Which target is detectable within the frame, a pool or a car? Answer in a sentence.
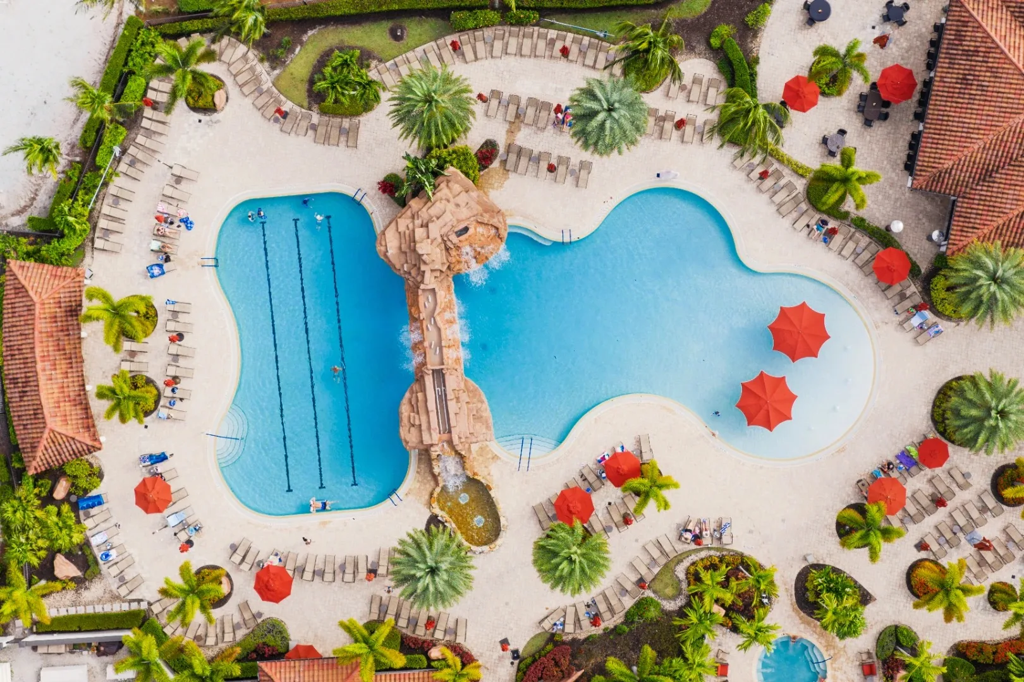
I can see a pool in this picture.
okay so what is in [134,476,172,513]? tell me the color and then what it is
red umbrella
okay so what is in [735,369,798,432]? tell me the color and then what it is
red umbrella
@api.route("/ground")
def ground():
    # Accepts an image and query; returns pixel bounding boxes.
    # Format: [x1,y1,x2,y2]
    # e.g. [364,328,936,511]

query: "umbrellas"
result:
[916,437,949,469]
[554,486,593,524]
[735,369,798,432]
[286,643,321,659]
[867,476,906,511]
[604,450,641,488]
[767,299,831,364]
[871,247,910,285]
[876,64,916,104]
[255,565,292,602]
[134,476,172,513]
[783,76,819,112]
